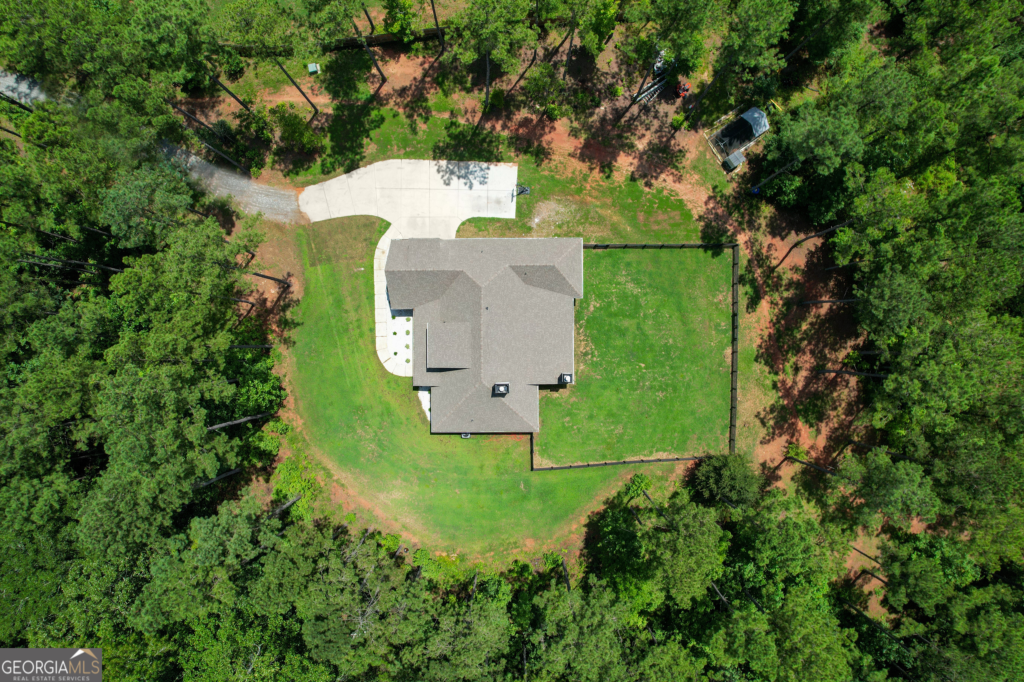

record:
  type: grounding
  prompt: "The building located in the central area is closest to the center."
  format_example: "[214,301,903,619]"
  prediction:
[385,236,584,433]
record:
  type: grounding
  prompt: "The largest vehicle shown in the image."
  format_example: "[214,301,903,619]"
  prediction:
[675,80,694,99]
